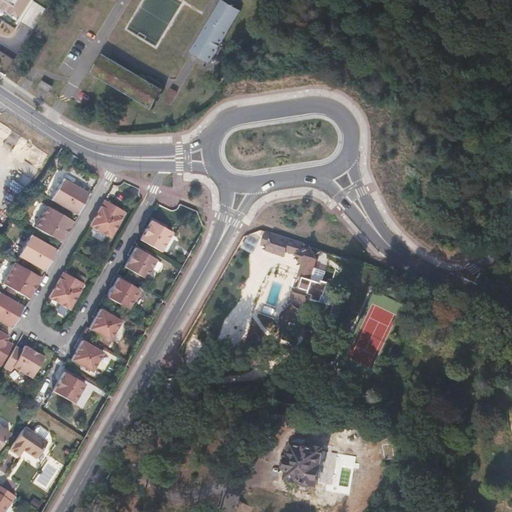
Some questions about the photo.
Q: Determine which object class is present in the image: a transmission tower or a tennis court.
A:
tennis court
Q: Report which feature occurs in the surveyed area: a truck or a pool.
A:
pool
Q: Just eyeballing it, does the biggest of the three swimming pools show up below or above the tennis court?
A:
below it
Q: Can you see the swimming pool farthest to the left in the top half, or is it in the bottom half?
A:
bottom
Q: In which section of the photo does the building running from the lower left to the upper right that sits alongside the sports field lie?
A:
top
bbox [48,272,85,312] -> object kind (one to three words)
house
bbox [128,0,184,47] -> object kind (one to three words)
sports field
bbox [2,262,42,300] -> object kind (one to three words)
house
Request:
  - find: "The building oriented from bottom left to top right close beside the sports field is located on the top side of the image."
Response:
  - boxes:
[188,0,242,59]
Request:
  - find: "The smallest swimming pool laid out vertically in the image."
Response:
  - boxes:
[265,280,283,308]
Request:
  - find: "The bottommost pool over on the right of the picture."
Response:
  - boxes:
[326,453,359,496]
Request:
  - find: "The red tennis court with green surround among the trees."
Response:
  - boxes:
[348,294,402,370]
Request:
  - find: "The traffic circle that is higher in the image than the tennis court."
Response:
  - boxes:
[186,96,366,219]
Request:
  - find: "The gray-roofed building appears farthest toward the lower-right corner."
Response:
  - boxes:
[278,442,325,488]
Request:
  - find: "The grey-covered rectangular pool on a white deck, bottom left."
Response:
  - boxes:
[32,456,64,492]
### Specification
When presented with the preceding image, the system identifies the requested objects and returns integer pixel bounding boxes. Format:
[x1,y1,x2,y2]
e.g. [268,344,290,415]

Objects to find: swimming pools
[32,456,64,492]
[265,280,283,308]
[326,453,359,496]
